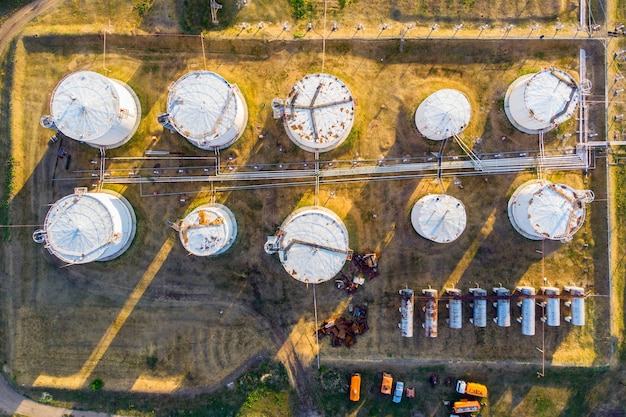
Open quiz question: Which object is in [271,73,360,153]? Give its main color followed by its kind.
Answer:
white storage tank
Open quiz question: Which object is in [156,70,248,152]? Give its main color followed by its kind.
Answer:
white storage tank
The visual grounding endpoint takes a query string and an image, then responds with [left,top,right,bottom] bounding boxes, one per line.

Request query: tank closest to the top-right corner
[503,65,593,136]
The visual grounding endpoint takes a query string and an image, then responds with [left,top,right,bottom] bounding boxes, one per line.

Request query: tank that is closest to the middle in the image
[265,207,355,289]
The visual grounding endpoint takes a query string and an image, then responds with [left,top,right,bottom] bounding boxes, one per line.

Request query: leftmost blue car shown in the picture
[392,382,405,405]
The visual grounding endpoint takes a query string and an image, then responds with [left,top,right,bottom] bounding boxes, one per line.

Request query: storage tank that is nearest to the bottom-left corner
[29,188,134,270]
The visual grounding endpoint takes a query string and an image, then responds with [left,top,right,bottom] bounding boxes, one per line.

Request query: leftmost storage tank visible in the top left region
[39,70,141,152]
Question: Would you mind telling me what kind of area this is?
industrial area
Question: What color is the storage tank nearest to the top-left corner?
white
